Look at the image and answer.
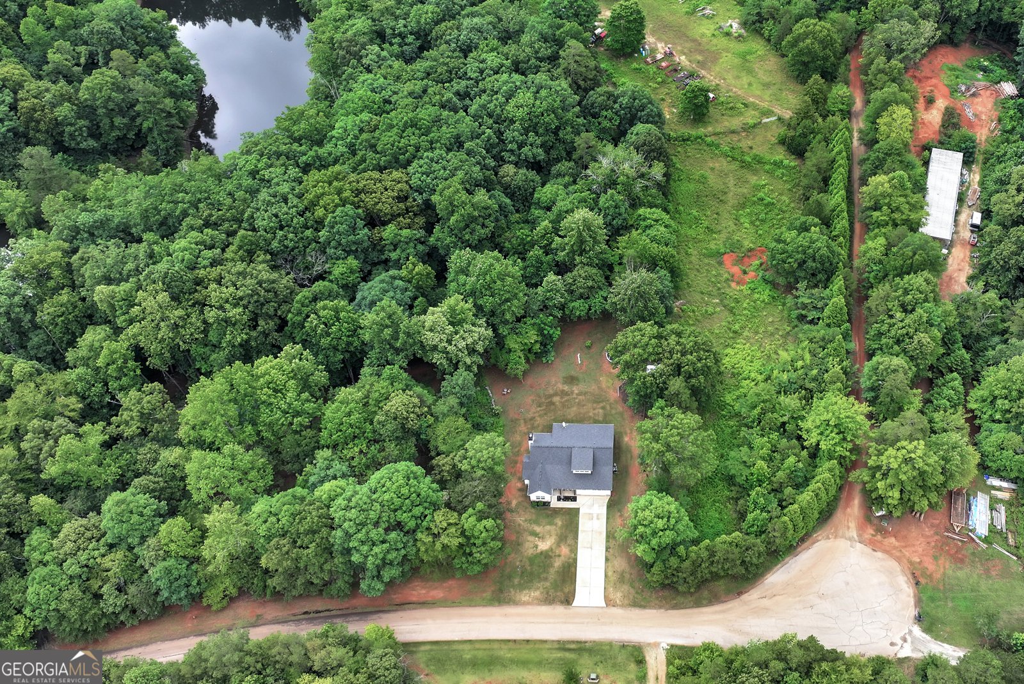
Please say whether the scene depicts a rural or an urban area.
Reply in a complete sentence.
It looks rural.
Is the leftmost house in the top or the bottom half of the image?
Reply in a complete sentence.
Seen from above, the leftmost house lies in the bottom half of the view.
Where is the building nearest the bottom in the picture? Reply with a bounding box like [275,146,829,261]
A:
[522,422,615,501]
